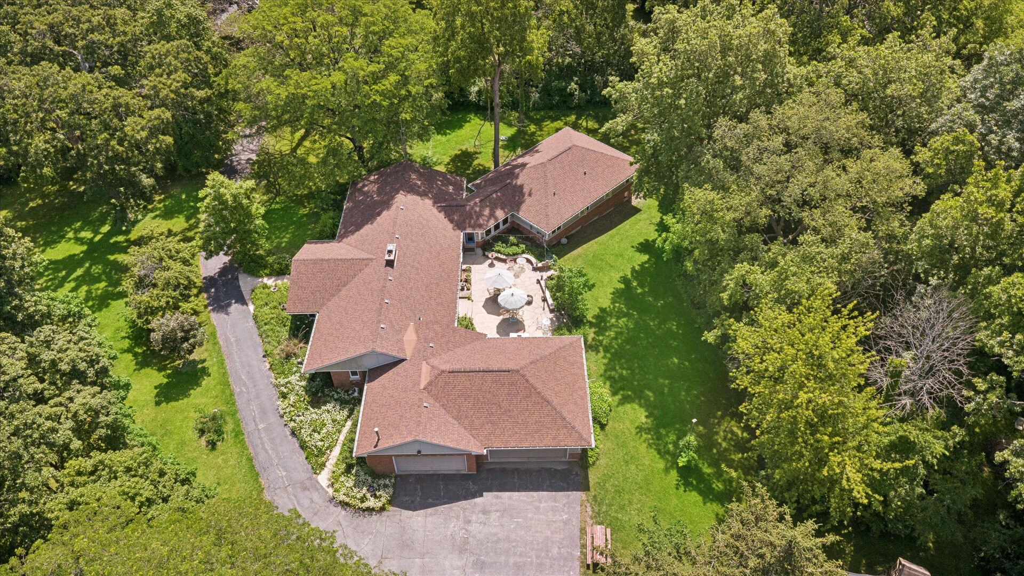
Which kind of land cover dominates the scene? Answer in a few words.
trees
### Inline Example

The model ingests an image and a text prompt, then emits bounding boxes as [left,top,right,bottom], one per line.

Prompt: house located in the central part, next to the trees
[286,126,636,479]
